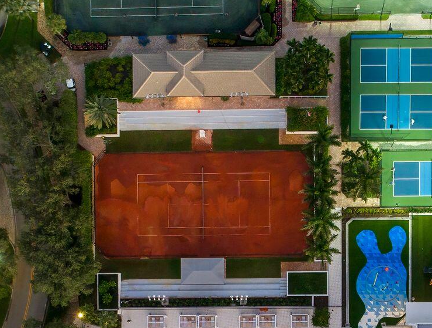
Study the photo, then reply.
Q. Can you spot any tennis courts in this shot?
Yes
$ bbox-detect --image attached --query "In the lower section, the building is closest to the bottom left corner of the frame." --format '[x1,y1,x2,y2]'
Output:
[181,258,225,284]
